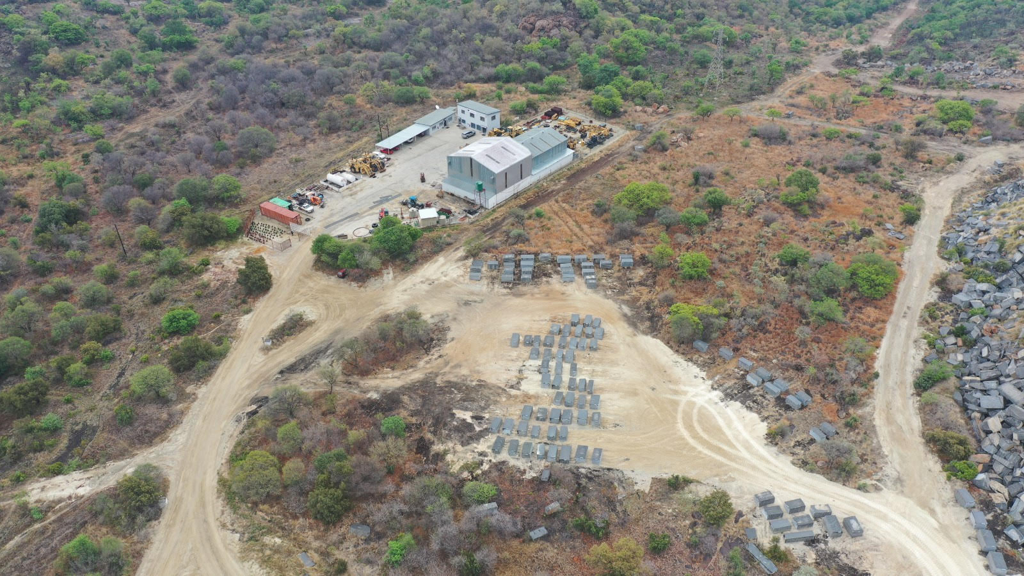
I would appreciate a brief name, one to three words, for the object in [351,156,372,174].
work vehicle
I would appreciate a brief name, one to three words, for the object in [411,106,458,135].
building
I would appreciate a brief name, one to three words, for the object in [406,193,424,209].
work vehicle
